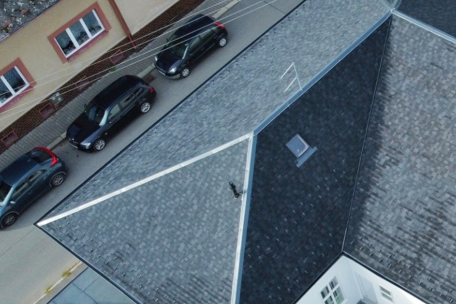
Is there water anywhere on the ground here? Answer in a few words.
No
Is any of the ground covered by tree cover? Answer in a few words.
No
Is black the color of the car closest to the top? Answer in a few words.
Yes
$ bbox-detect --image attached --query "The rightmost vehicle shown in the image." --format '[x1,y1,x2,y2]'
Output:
[147,13,228,81]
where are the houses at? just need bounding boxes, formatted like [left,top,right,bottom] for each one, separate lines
[32,0,456,304]
[0,0,200,150]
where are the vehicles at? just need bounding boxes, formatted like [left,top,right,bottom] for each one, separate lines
[147,13,228,81]
[54,69,157,155]
[0,147,66,230]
